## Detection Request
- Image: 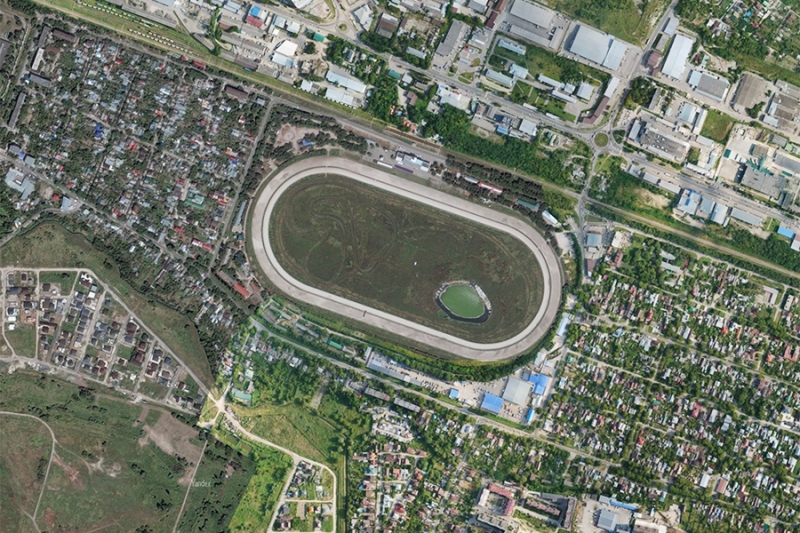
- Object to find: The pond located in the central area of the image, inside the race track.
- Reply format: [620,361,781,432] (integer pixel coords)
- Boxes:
[435,280,492,324]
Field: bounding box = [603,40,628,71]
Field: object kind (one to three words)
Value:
building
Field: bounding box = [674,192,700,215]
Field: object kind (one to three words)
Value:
building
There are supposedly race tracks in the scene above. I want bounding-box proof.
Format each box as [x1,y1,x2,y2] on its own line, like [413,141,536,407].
[252,156,562,362]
